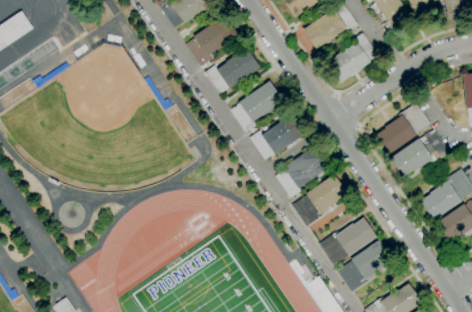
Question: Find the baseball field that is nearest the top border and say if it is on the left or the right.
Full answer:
The baseball field that is nearest the top border appears in the left half of the scene.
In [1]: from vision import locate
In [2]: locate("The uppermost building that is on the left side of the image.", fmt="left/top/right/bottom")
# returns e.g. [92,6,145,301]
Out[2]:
[166,0,208,28]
